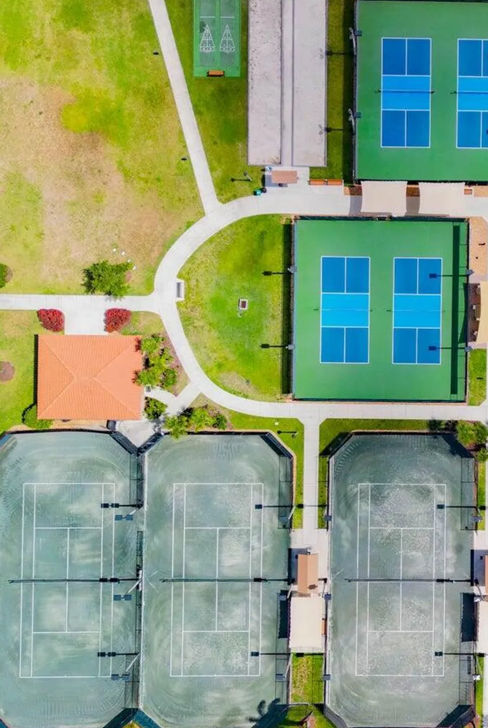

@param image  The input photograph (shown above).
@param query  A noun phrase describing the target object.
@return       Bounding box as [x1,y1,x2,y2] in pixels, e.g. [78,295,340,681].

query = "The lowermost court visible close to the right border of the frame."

[325,435,477,728]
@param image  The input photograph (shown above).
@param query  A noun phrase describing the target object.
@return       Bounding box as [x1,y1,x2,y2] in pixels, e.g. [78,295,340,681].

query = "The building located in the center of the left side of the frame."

[37,334,146,420]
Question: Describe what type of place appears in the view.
sports ground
